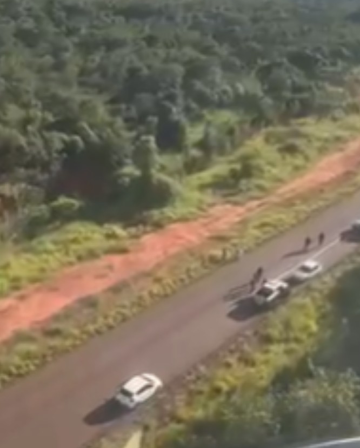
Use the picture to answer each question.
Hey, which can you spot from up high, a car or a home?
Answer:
car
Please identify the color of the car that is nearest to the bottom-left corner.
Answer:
white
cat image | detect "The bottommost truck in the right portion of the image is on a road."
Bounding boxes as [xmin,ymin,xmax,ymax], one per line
[250,274,293,305]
